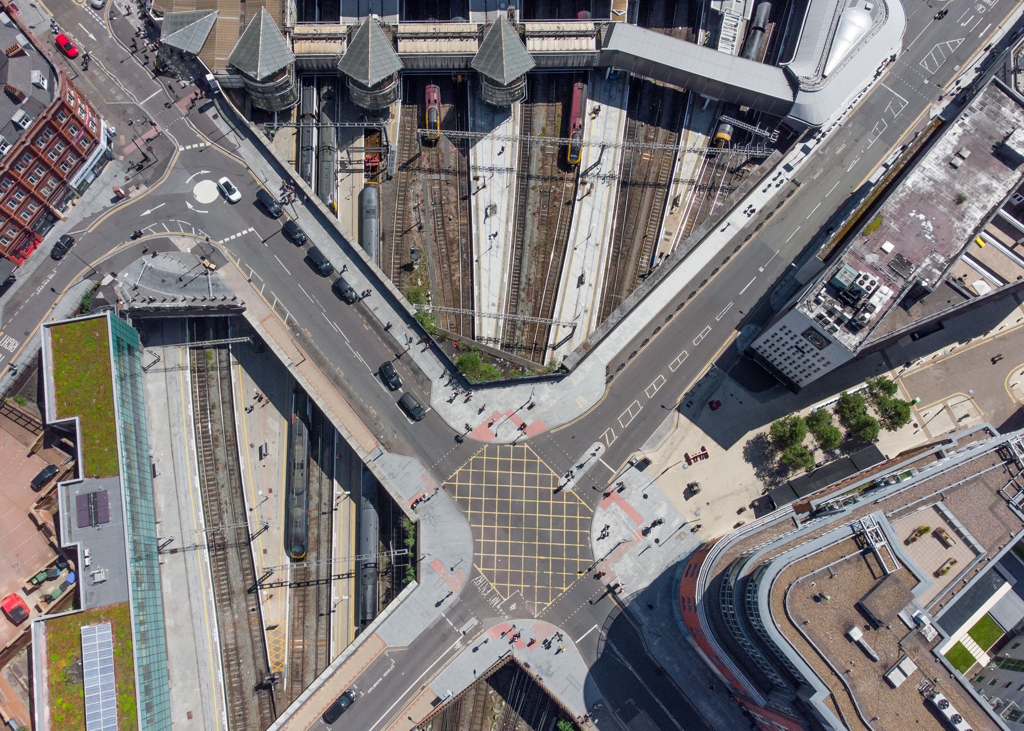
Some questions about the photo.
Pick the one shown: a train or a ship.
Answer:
train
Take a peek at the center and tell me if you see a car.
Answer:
Yes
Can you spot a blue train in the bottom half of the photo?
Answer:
No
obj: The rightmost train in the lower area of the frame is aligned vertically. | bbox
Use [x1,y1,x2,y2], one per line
[359,459,383,625]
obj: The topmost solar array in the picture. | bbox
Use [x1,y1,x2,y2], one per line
[75,489,110,528]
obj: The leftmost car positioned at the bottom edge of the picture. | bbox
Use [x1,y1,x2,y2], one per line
[319,687,359,727]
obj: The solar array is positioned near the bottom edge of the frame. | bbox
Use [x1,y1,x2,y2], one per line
[81,621,118,731]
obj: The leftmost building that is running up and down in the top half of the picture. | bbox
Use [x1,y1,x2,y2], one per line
[0,0,111,267]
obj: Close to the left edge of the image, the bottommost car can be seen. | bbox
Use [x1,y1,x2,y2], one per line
[23,460,60,495]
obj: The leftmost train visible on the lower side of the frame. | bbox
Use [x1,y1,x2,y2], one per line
[289,376,316,562]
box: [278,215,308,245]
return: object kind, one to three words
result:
car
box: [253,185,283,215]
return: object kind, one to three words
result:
car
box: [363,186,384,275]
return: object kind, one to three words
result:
train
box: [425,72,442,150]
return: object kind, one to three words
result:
rail car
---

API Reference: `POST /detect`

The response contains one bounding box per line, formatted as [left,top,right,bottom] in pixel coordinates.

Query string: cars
[45,230,76,259]
[304,243,334,275]
[319,687,359,727]
[375,357,404,391]
[253,185,283,215]
[23,460,60,495]
[53,31,77,55]
[329,273,359,304]
[215,173,239,201]
[397,388,426,423]
[278,215,308,245]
